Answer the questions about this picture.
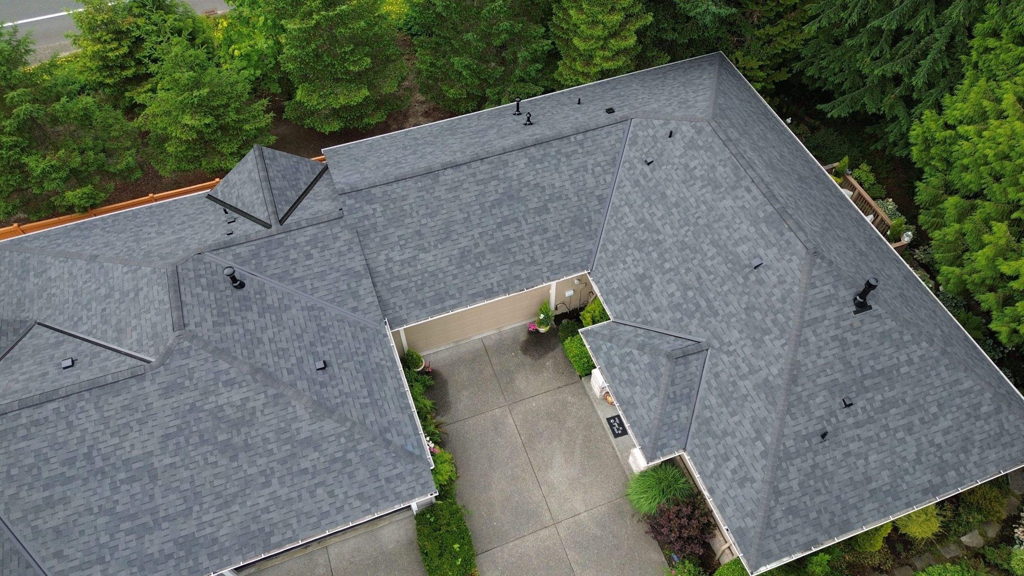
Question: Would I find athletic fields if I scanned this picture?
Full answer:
No, no athletic field can be seen from above.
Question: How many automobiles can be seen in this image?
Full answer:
No automobiles are visible.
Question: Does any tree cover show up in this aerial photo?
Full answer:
Yes, some tree cover is visible.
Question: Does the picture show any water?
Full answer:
No, water can't be seen anywhere here.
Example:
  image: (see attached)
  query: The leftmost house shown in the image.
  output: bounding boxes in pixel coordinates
[0,143,441,576]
